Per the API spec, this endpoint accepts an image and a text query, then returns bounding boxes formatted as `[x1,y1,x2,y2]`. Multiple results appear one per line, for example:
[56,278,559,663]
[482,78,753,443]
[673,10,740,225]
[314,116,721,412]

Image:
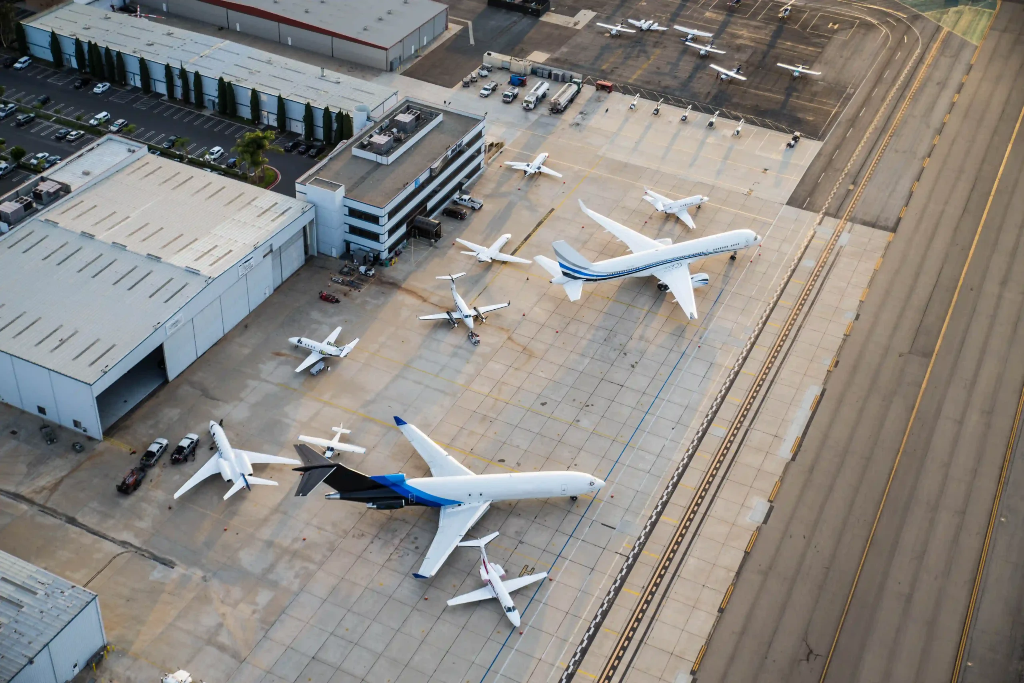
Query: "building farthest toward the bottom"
[0,550,107,683]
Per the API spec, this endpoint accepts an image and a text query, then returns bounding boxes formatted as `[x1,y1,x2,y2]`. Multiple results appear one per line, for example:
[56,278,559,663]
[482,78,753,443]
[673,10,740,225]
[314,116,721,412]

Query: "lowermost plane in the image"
[445,531,548,627]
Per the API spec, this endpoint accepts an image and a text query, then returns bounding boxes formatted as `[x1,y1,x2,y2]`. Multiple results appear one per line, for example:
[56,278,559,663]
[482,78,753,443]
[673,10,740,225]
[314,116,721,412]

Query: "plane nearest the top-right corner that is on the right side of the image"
[776,62,819,80]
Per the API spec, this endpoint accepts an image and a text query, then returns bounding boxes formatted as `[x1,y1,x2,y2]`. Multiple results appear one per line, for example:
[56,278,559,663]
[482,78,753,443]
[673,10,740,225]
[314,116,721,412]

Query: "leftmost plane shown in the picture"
[173,422,299,502]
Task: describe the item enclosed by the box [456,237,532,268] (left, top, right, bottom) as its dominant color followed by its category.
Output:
white airplane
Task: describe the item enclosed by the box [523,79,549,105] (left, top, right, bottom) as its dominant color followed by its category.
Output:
white truck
